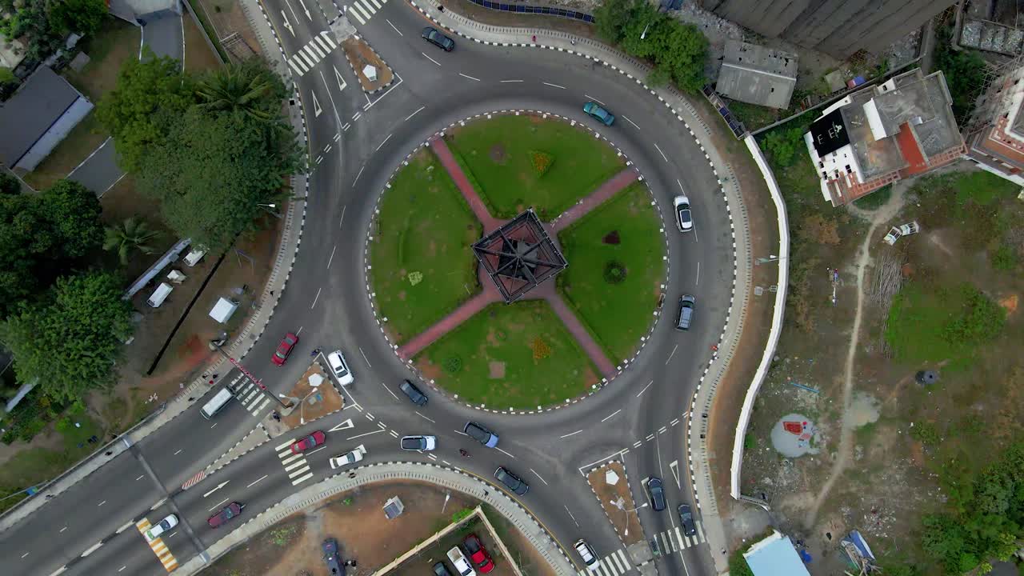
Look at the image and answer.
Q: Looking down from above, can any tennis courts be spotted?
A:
No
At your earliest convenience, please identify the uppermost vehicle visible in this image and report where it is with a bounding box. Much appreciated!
[420,24,457,53]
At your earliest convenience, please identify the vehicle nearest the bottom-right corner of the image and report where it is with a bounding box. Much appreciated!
[676,503,696,539]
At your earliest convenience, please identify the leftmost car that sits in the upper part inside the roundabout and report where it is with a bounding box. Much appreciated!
[581,100,617,128]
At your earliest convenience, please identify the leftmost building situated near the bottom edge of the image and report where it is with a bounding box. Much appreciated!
[737,527,811,576]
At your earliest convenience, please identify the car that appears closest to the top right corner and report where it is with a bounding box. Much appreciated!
[672,195,692,232]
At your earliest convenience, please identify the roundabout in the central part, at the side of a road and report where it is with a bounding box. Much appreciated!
[320,65,714,459]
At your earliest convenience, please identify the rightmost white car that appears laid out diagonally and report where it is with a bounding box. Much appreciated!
[573,538,601,573]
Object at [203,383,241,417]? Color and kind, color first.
white vehicle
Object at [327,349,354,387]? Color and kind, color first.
white car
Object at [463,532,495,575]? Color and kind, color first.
red truck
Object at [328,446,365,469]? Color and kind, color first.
white car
